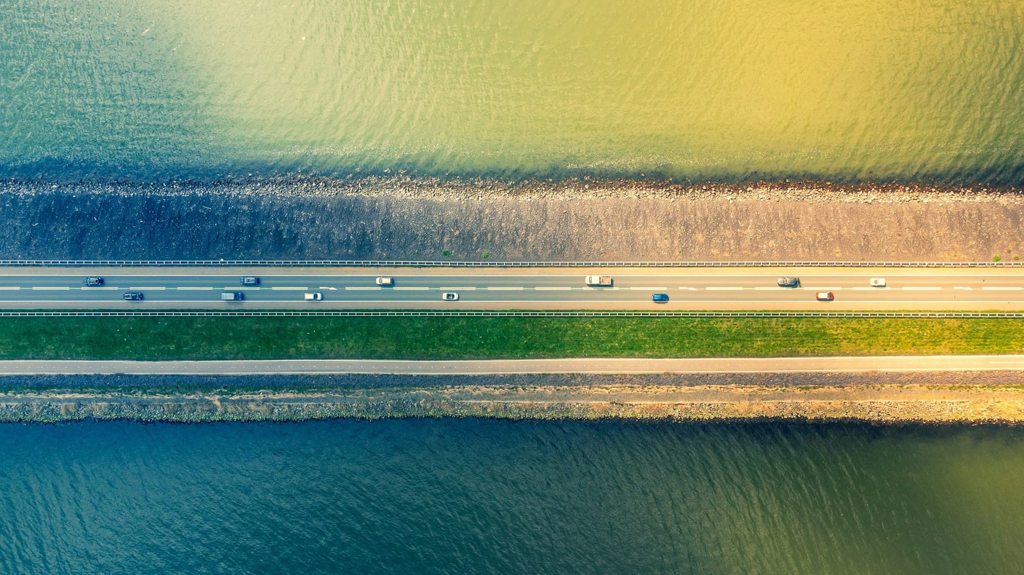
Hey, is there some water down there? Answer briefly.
Yes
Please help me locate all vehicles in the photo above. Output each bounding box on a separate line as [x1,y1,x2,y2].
[220,292,243,301]
[585,275,611,285]
[815,292,832,300]
[240,276,259,285]
[651,293,668,301]
[376,277,393,285]
[442,292,458,300]
[777,277,797,285]
[84,277,102,285]
[304,292,323,301]
[869,278,886,286]
[123,292,143,301]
